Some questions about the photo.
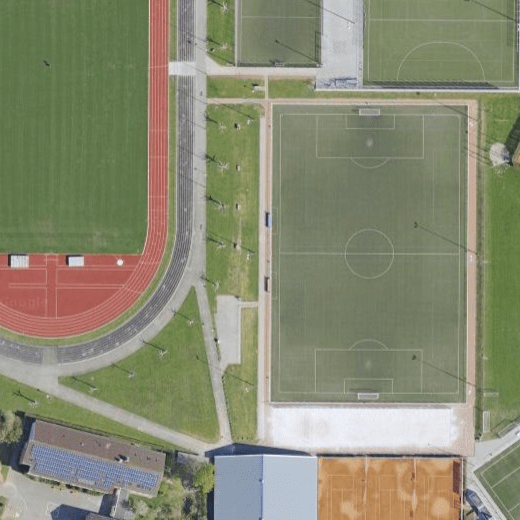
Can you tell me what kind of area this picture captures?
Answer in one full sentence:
It's a sports ground.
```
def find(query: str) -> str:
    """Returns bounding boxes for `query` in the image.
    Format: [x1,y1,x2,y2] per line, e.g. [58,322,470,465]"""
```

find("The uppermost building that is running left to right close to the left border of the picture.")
[24,420,165,497]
